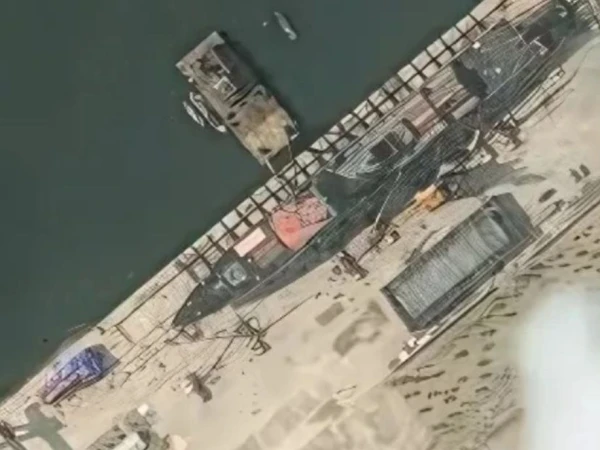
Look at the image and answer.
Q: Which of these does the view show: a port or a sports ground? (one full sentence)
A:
This looks like a port.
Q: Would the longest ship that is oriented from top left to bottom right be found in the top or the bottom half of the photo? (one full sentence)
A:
The longest ship that is oriented from top left to bottom right is in the top half of the image.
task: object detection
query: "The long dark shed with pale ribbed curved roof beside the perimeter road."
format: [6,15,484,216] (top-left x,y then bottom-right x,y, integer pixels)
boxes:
[379,190,538,333]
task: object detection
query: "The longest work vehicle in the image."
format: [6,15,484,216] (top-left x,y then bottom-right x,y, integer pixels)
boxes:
[384,179,448,228]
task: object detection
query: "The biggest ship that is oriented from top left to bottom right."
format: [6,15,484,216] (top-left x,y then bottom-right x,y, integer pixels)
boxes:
[176,32,297,164]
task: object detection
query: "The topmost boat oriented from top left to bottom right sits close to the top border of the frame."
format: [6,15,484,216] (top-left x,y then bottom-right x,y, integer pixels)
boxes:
[276,12,297,39]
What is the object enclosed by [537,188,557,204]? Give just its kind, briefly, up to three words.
vehicle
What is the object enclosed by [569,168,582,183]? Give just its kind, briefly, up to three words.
vehicle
